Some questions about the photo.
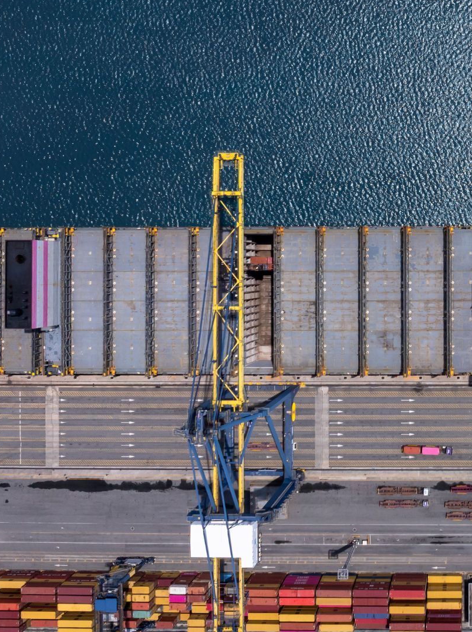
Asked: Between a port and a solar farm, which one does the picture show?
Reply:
port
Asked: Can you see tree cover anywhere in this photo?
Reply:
No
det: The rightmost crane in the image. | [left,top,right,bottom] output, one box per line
[176,150,314,632]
